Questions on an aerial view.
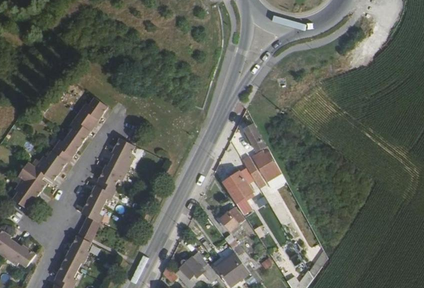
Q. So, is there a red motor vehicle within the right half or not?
No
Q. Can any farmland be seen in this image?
Yes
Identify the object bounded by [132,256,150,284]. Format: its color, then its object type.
white vehicle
